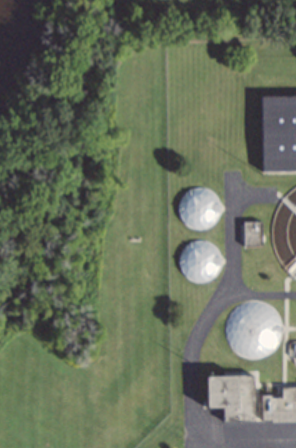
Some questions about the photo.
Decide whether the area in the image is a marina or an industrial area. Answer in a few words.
industrial area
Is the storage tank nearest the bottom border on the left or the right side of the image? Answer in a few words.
right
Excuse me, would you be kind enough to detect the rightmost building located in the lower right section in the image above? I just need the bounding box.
[263,388,296,423]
